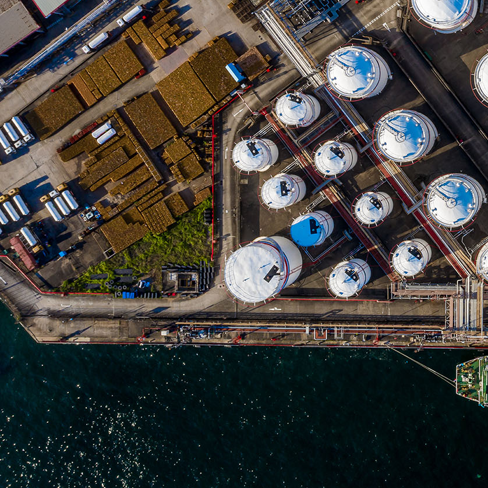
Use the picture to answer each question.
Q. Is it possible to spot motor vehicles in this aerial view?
Yes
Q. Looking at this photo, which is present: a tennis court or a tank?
tank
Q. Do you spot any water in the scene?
Yes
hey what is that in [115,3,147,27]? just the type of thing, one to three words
truck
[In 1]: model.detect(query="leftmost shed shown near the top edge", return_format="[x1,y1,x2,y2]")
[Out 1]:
[0,0,53,66]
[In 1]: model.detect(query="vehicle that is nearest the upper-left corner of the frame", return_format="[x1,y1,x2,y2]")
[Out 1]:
[81,31,114,55]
